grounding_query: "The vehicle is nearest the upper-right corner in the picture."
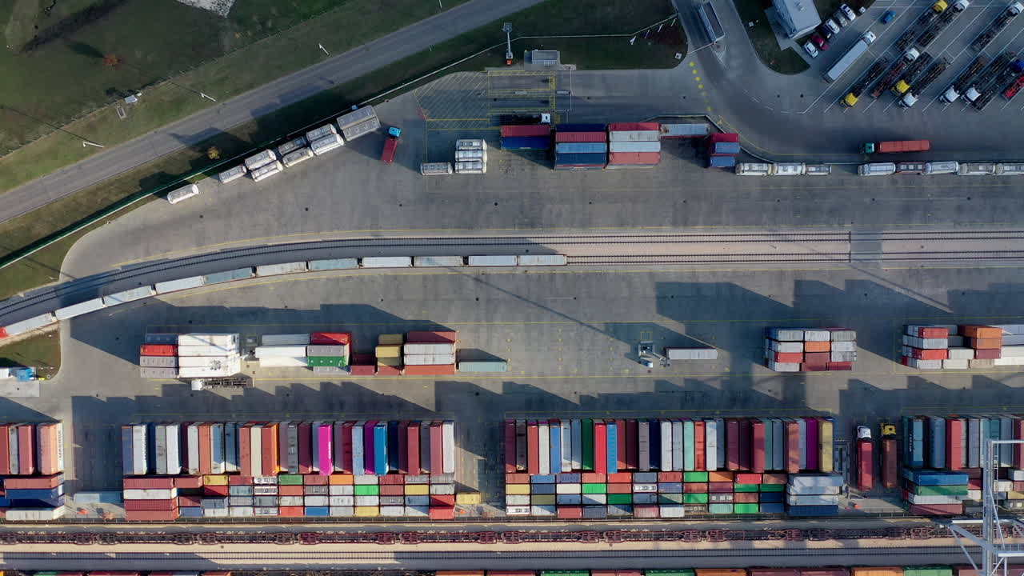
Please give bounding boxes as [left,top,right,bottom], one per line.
[966,1,1024,56]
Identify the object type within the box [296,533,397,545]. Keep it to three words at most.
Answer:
rail car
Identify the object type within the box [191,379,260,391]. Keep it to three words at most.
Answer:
vehicle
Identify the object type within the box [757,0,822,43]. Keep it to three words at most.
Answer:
building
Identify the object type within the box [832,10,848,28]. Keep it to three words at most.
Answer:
car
